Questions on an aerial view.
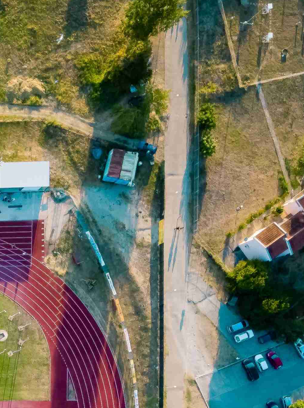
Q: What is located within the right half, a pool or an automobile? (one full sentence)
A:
Visible within the right half is an automobile.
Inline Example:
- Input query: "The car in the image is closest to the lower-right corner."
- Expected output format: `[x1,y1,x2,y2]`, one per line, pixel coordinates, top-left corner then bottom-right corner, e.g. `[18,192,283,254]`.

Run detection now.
[279,395,293,408]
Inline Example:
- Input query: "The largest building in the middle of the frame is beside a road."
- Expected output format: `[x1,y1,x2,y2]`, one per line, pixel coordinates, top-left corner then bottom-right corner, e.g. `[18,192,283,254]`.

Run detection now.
[100,149,140,186]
